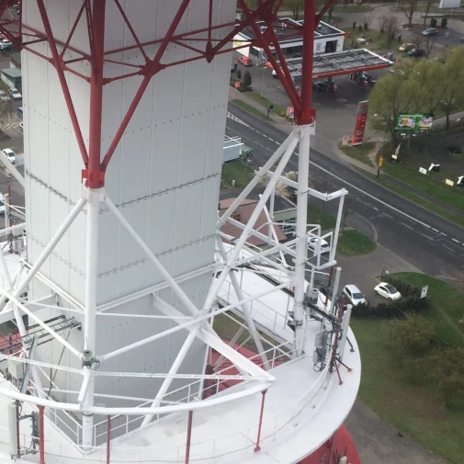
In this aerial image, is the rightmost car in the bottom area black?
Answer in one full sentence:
No, from above the rightmost car in the bottom area looks white.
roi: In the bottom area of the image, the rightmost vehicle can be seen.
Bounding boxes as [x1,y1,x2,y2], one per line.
[371,280,403,300]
